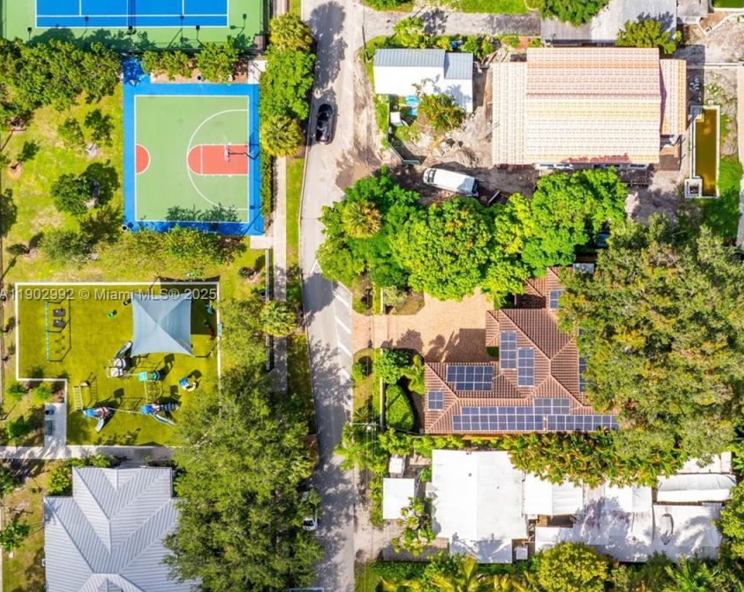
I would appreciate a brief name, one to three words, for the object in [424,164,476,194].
van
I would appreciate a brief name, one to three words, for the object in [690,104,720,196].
swimming pool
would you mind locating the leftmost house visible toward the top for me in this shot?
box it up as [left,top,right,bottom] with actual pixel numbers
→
[374,49,473,113]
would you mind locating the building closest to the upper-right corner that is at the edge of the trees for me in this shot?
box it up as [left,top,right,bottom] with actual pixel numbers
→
[492,46,686,173]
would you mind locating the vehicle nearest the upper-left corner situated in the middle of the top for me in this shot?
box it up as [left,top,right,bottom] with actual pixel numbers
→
[313,100,334,141]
